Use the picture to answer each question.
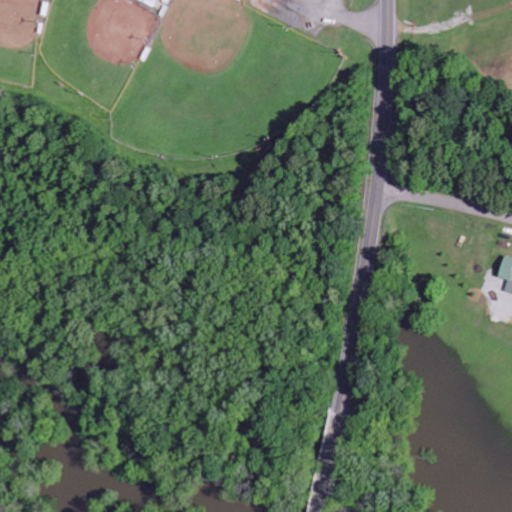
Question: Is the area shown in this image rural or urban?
rural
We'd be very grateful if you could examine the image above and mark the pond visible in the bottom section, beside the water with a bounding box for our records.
[386,326,512,512]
